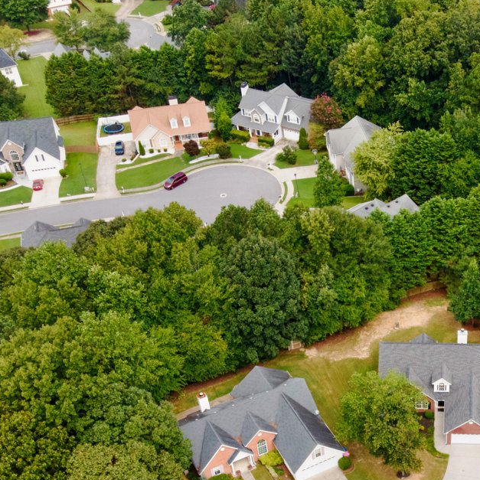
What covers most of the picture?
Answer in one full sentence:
What you mostly see from above here is trees.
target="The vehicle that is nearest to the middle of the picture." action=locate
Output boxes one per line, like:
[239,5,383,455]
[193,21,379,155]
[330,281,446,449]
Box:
[162,166,190,188]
